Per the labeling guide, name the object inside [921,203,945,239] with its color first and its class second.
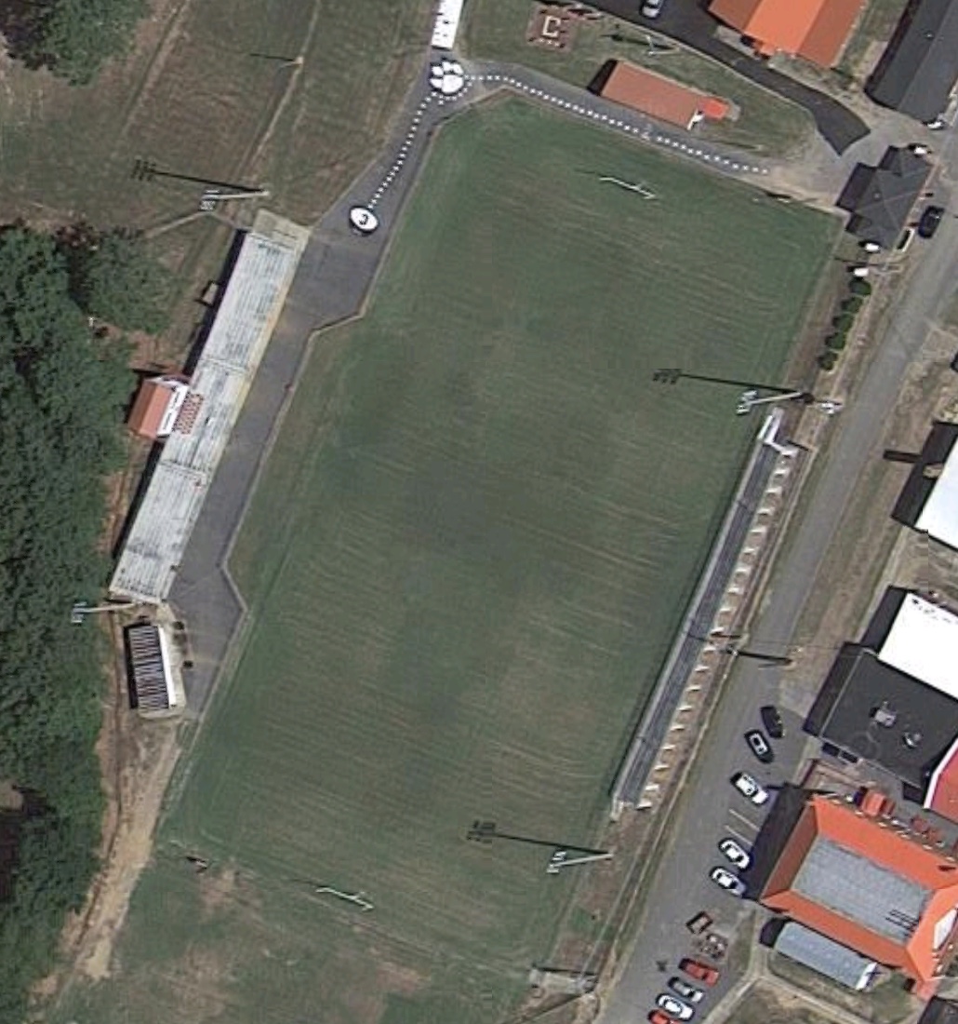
black car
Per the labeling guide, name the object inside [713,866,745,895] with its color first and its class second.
white car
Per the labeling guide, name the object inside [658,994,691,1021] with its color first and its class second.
white car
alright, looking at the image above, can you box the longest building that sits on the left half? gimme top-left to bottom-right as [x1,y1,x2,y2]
[129,625,177,709]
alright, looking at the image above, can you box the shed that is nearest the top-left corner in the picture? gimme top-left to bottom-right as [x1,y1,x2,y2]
[202,283,223,304]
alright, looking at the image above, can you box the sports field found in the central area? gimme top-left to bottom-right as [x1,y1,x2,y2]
[158,95,842,970]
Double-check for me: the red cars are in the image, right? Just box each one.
[648,1010,679,1024]
[683,958,718,985]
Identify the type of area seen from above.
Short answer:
sports ground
